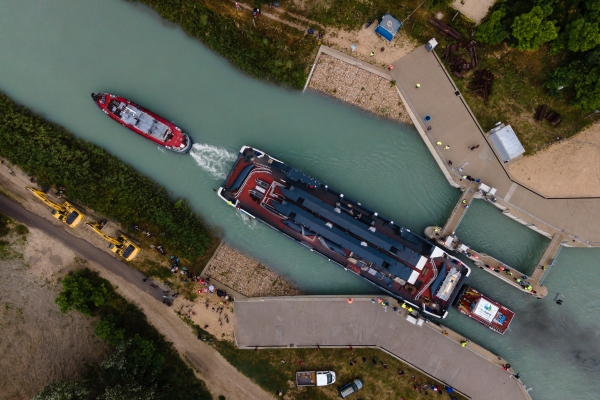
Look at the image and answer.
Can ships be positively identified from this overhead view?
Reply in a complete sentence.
Yes, a ship is visible in the scene.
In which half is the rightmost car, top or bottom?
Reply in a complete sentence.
The rightmost car is in the bottom half of the image.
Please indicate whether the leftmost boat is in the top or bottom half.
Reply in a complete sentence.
The leftmost boat is in the top half of the image.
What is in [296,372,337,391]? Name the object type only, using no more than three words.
vehicle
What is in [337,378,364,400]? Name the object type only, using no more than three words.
car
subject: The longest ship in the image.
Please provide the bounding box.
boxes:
[216,145,473,319]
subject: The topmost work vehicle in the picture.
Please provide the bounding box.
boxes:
[27,189,93,228]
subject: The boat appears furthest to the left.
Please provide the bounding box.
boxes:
[90,91,195,155]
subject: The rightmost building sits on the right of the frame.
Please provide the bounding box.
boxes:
[488,121,530,170]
